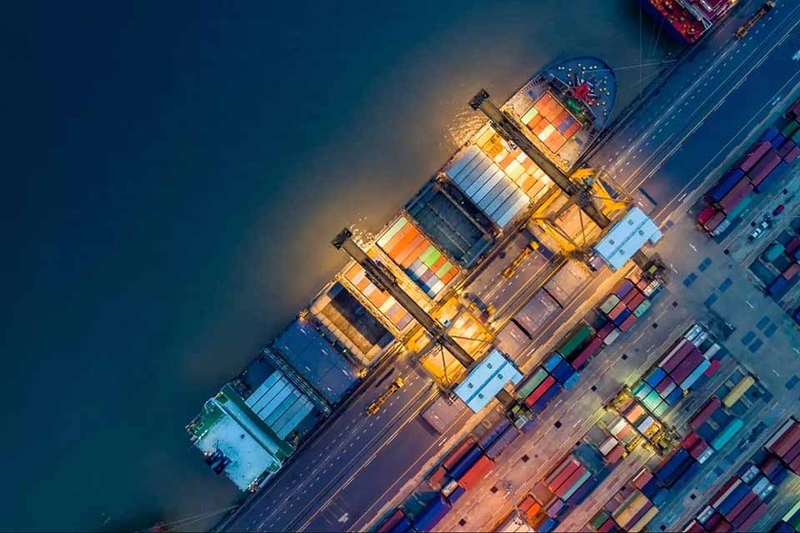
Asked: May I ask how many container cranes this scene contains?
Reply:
3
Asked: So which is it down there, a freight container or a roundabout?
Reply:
freight container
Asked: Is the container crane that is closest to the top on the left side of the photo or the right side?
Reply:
right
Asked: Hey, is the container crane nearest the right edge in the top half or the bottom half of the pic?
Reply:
bottom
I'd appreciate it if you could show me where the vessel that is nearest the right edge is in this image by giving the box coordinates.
[631,0,734,45]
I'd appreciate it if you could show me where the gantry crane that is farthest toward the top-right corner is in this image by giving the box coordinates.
[473,87,677,285]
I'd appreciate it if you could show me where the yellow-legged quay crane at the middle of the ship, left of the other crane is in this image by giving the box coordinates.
[334,231,538,428]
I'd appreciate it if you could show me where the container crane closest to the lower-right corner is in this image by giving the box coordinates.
[592,377,688,463]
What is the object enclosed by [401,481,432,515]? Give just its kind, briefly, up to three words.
shipping container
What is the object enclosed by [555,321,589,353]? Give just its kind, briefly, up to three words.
shipping container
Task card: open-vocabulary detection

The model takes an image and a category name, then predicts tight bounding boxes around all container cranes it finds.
[473,87,677,285]
[334,231,538,428]
[592,377,688,463]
